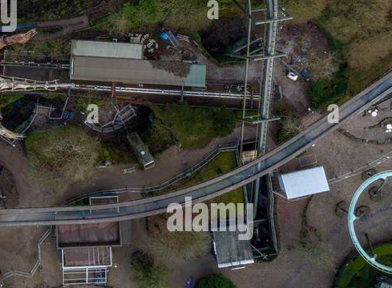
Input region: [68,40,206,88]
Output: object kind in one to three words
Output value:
shed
